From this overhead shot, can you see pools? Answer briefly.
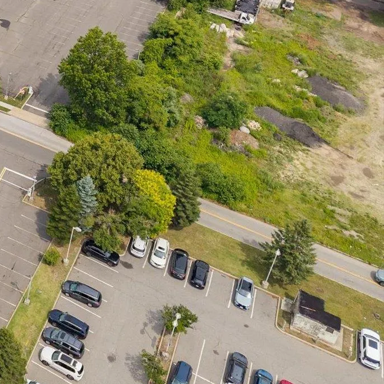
No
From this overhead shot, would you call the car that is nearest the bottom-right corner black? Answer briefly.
No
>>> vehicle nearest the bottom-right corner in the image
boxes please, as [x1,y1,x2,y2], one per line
[356,331,384,371]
